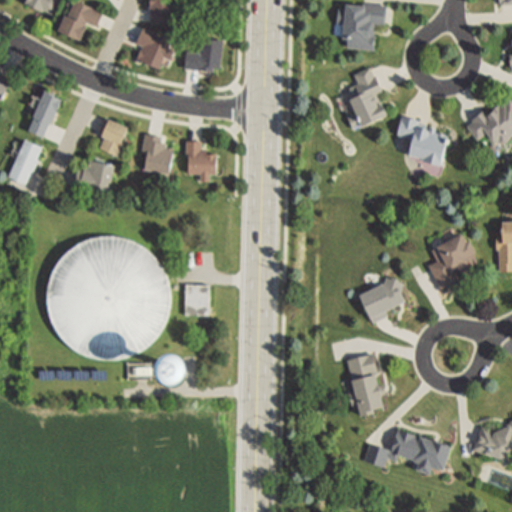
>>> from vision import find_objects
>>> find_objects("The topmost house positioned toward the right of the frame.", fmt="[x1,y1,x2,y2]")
[342,3,385,52]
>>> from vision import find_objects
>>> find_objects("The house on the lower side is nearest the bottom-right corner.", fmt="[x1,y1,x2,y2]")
[470,420,512,462]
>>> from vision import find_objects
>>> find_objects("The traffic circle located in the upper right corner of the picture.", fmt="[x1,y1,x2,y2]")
[406,0,482,96]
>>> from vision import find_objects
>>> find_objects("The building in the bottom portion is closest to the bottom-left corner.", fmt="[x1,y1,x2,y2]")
[127,362,154,381]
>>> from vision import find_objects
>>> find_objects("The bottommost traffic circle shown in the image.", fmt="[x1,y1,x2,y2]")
[414,312,512,396]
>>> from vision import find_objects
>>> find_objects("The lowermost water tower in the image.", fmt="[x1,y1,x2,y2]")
[154,355,188,386]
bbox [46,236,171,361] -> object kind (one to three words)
storage tank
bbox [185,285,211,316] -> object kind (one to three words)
building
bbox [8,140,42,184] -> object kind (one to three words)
house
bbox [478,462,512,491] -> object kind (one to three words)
swimming pool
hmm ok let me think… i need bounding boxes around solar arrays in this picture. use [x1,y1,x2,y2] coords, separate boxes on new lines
[38,371,54,380]
[92,371,107,380]
[74,371,90,380]
[56,371,72,380]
